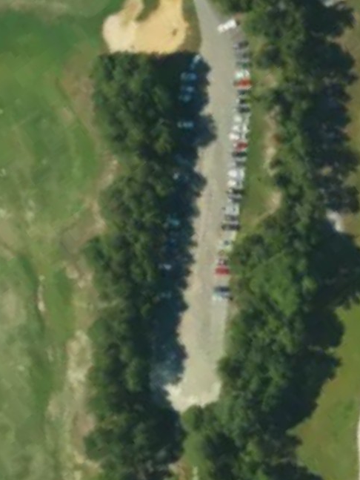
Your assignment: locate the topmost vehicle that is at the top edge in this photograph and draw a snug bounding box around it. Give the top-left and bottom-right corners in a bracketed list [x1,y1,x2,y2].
[218,17,237,31]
